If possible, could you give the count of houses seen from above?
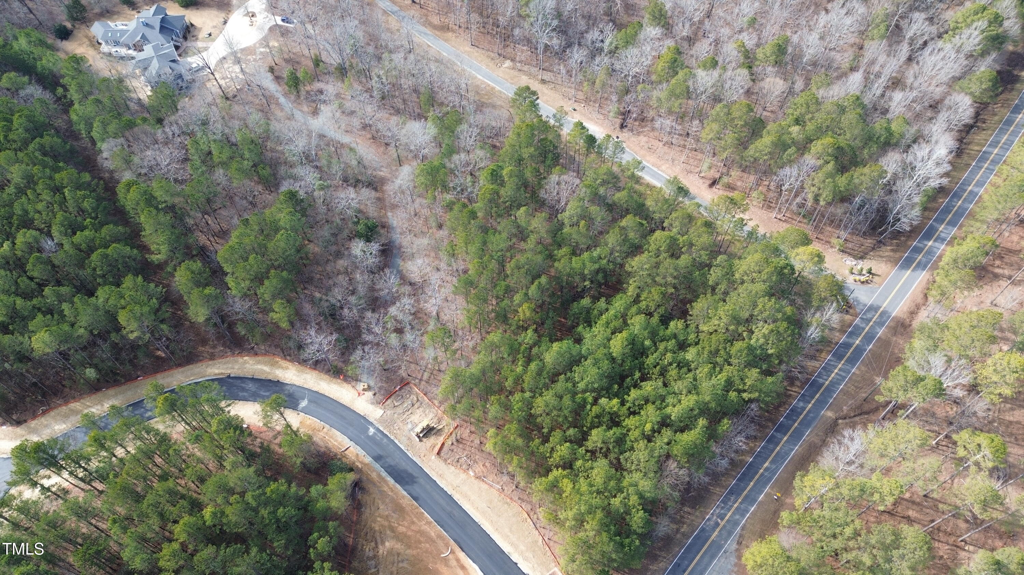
1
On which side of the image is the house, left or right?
left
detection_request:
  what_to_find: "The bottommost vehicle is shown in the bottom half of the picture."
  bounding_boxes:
[412,420,436,445]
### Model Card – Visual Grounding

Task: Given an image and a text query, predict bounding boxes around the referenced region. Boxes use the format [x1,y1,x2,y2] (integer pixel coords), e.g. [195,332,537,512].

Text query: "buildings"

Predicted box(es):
[90,4,189,84]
